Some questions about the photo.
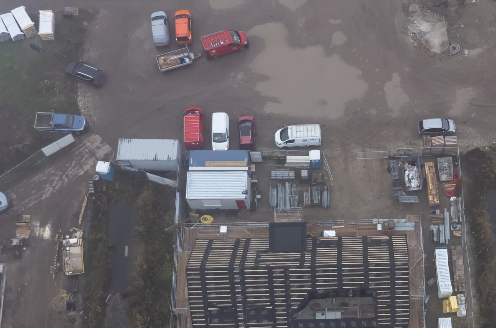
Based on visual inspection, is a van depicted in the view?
Yes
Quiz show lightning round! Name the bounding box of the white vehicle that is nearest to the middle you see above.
[208,110,230,150]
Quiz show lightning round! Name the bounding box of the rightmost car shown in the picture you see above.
[418,114,456,136]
